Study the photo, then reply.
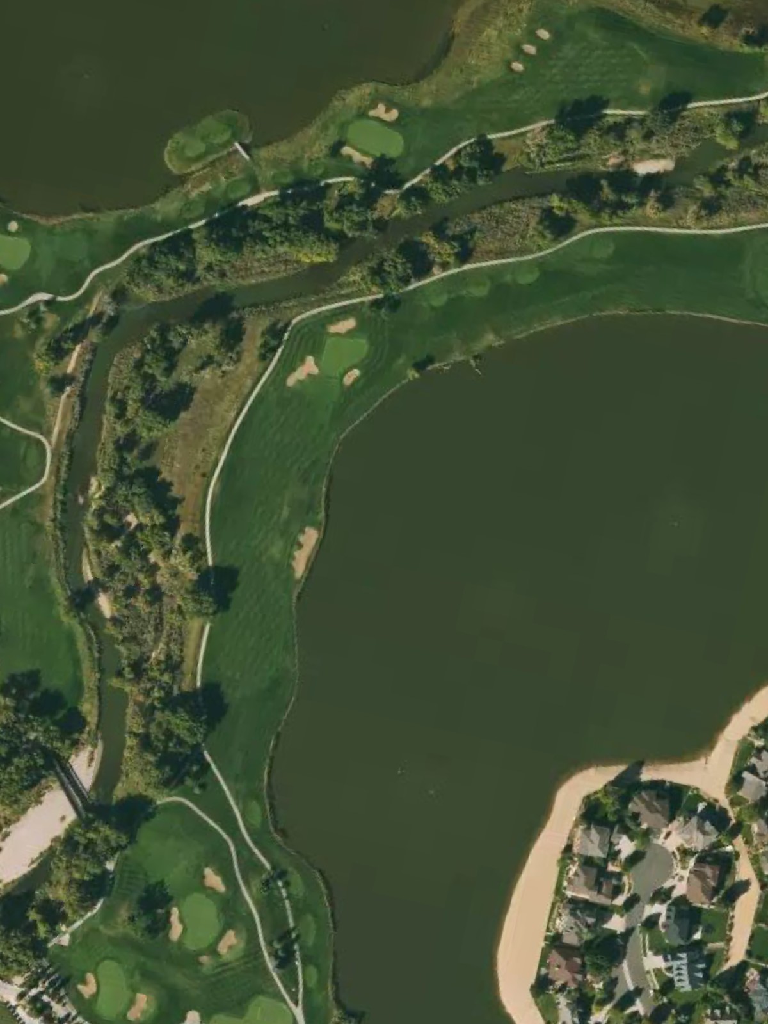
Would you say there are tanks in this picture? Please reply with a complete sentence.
No, I can see no tank in this picture.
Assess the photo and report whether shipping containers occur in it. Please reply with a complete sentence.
No, no shipping container is visible in the view.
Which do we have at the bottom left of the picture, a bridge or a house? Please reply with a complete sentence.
Visible at the bottom left of the picture is a bridge.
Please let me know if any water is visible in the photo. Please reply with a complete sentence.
Yes, water shows up in the scene.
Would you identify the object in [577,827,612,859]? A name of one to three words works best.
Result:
house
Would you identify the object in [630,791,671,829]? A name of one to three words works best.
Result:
house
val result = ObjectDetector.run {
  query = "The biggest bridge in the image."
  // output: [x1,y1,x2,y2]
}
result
[48,754,91,820]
